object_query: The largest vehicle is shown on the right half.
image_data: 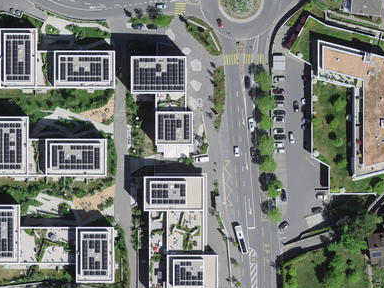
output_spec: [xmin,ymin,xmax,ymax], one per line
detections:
[234,224,248,254]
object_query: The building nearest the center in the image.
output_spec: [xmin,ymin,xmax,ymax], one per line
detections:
[156,112,194,144]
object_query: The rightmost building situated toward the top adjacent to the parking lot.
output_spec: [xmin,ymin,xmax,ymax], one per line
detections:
[318,40,384,180]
